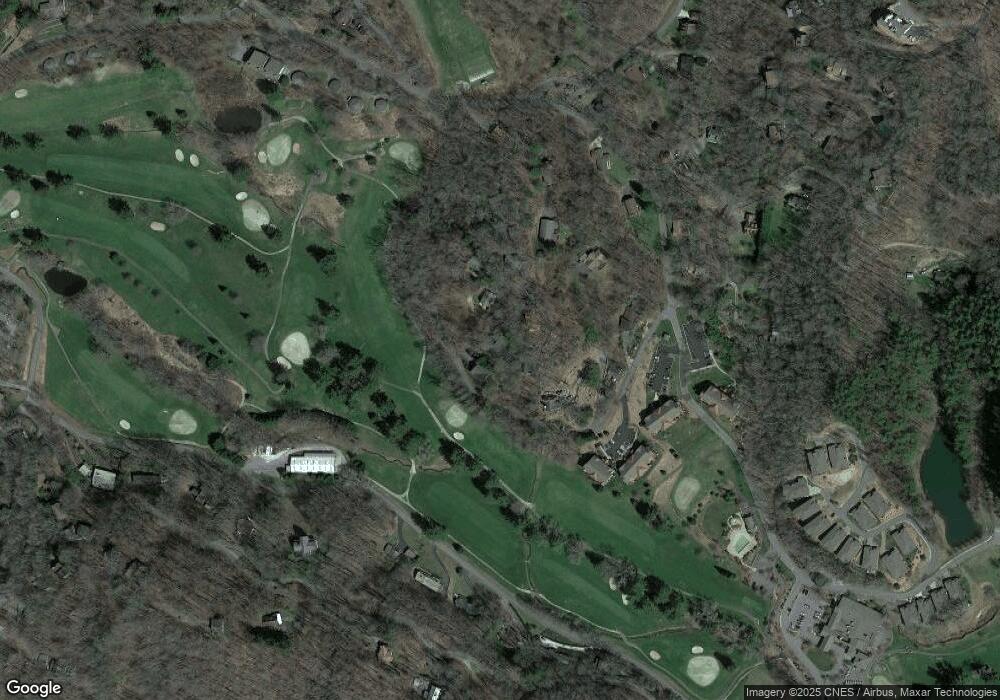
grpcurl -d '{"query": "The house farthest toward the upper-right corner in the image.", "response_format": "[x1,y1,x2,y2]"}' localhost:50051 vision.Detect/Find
[880,5,907,37]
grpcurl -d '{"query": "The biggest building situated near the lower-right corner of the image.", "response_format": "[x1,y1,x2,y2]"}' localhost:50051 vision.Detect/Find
[821,591,892,658]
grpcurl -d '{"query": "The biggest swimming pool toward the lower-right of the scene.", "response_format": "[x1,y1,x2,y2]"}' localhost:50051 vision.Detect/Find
[729,513,757,557]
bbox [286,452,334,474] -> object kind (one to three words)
building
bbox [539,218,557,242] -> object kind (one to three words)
house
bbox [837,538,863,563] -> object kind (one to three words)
house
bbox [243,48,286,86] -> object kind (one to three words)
building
